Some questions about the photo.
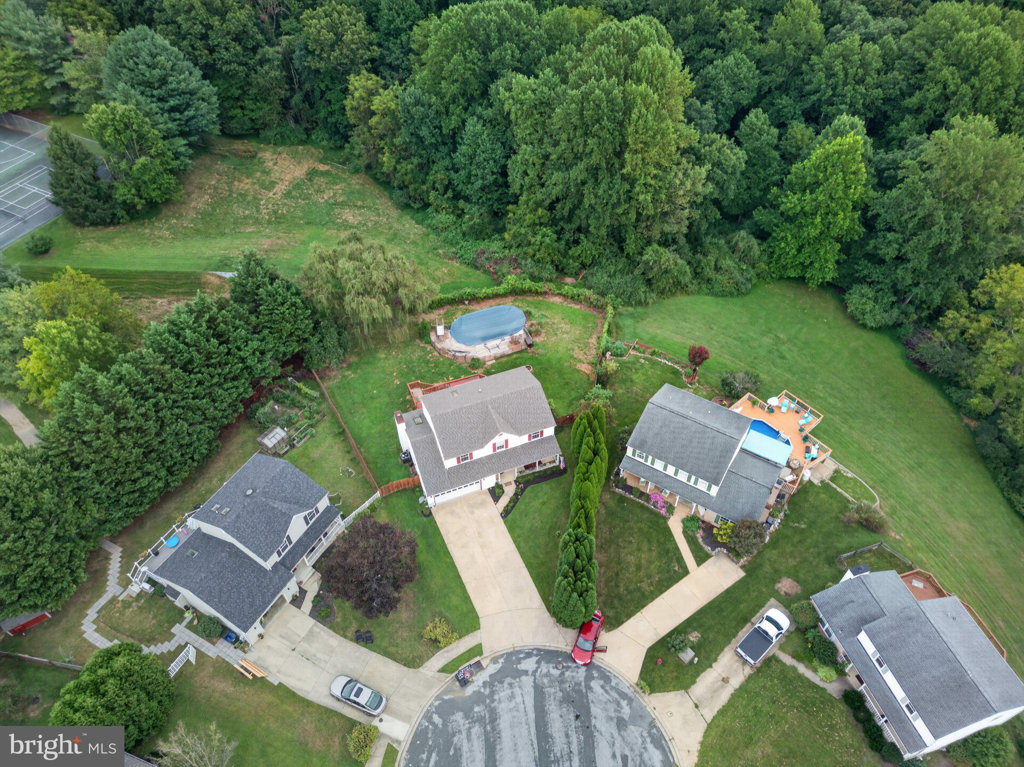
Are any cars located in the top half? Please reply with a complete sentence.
No, there is no car in the top half.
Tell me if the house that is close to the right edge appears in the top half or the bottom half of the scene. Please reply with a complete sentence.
The house that is close to the right edge sits in the bottom half of the picture.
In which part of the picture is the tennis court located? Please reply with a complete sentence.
The tennis court sits in the top left section of the image.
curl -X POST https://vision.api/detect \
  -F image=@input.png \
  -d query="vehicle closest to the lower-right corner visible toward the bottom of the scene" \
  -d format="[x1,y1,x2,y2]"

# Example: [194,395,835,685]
[732,608,790,668]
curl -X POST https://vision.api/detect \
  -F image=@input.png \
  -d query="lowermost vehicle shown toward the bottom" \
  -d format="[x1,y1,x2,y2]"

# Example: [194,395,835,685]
[328,677,389,718]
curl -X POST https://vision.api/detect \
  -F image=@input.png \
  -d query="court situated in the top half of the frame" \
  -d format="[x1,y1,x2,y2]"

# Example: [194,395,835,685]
[0,130,66,248]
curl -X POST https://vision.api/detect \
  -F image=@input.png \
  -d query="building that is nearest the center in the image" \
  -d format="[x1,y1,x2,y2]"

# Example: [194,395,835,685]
[392,366,563,509]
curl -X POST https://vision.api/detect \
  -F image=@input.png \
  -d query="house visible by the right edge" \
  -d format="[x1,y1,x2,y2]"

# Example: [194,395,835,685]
[812,559,1024,763]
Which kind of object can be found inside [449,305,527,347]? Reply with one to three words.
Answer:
swimming pool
